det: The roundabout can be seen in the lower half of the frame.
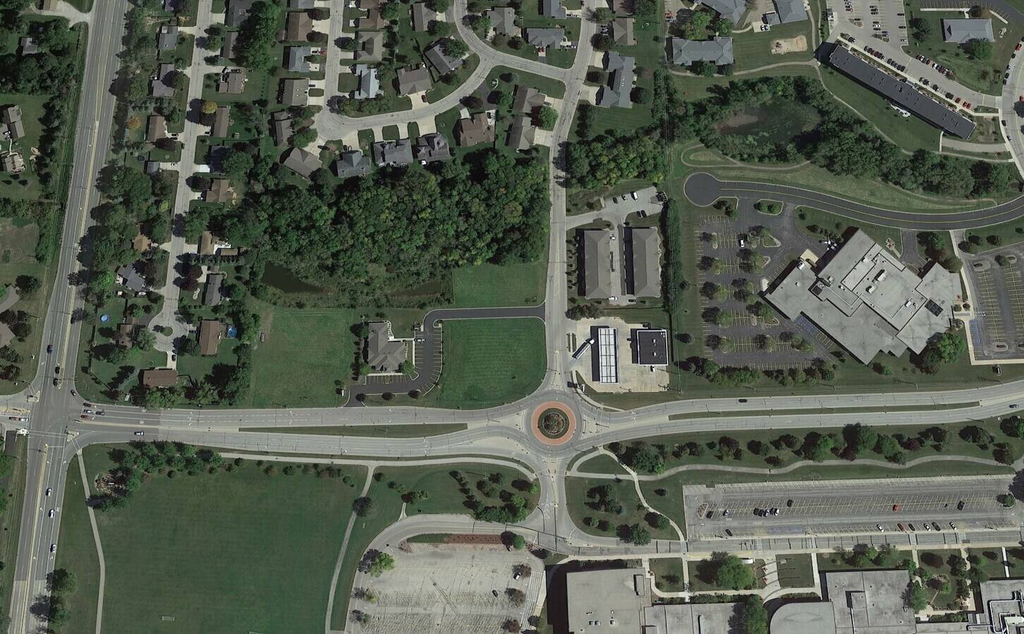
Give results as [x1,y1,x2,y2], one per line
[521,390,587,457]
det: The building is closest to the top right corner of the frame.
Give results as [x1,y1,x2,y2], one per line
[942,17,994,43]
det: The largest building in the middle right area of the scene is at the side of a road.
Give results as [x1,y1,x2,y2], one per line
[764,228,962,365]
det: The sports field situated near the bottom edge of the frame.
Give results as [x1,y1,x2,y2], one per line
[89,464,361,634]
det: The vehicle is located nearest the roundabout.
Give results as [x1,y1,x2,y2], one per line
[573,339,595,357]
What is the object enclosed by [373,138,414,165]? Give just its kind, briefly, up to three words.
house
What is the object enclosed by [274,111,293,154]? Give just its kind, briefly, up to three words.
house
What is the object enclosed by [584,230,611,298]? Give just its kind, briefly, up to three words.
building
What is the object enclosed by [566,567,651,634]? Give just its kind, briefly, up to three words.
building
